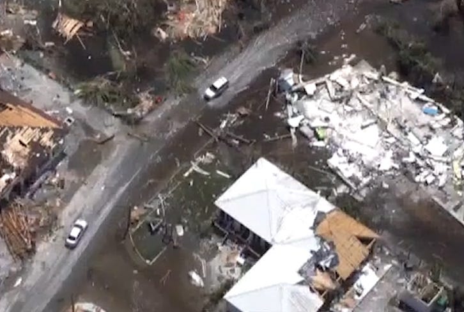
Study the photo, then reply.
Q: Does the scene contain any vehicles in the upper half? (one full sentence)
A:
Yes, a vehicle is visible in the upper half.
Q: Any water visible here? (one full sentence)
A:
Yes, there is water in the image.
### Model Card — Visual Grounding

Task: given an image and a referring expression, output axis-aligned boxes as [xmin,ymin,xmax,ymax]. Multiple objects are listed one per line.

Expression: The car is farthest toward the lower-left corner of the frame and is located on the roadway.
[62,215,92,252]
